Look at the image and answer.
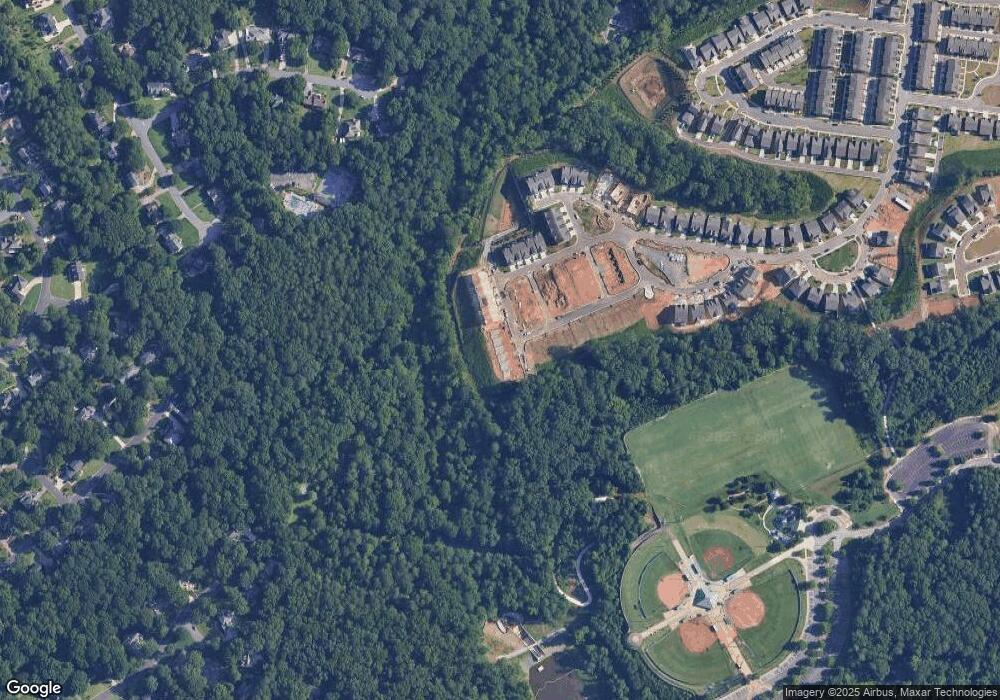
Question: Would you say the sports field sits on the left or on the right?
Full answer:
The sports field appears in the right half of the scene.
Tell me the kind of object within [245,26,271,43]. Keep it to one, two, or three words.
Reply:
house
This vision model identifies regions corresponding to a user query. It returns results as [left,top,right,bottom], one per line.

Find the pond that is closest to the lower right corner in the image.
[529,652,590,700]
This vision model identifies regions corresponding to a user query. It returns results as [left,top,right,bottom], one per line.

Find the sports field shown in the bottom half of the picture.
[626,365,885,521]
